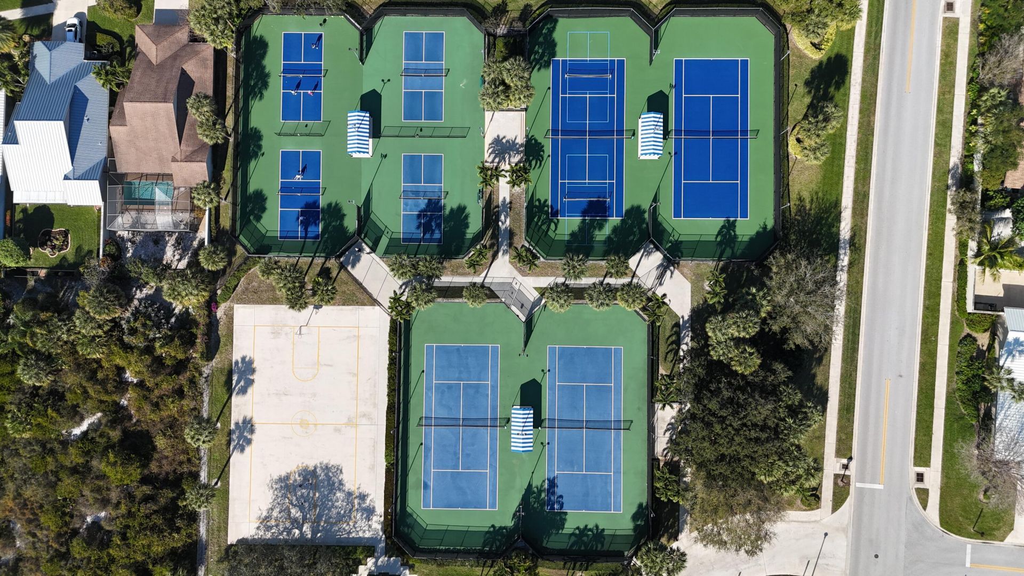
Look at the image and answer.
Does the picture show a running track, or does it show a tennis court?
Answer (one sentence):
There is a tennis court in the scene.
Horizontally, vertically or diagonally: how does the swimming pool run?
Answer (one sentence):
The swimming pool has been laid out horizontally relative to the frame.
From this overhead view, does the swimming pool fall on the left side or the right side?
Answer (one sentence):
You can find the swimming pool on the left side of the picture.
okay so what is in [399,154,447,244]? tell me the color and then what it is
blue sports court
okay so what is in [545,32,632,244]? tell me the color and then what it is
blue tennis court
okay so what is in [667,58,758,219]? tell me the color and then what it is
blue tennis court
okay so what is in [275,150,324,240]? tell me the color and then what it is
blue sports court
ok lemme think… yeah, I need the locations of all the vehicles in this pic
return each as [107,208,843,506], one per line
[65,17,84,43]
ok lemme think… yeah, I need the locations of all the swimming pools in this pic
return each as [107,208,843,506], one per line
[123,181,176,207]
